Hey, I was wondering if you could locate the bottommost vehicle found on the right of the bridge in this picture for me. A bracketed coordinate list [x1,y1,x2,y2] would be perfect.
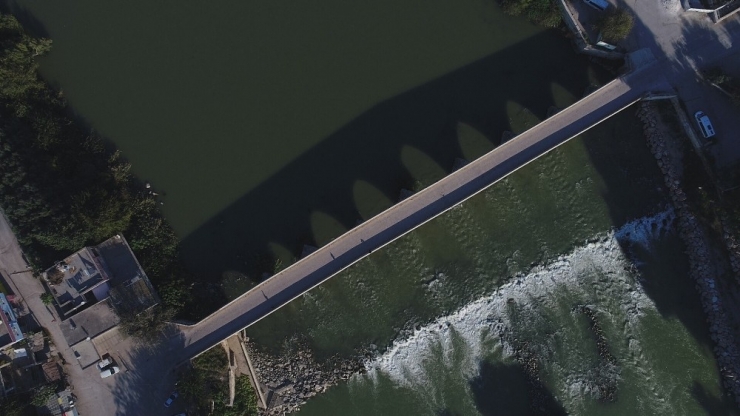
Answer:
[694,111,718,139]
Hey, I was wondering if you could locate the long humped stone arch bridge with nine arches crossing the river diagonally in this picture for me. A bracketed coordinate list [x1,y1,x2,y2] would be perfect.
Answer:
[152,60,663,369]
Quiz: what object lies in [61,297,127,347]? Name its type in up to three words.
house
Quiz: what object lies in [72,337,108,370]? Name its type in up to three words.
shed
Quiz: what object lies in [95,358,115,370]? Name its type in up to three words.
vehicle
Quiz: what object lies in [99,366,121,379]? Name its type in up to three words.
vehicle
